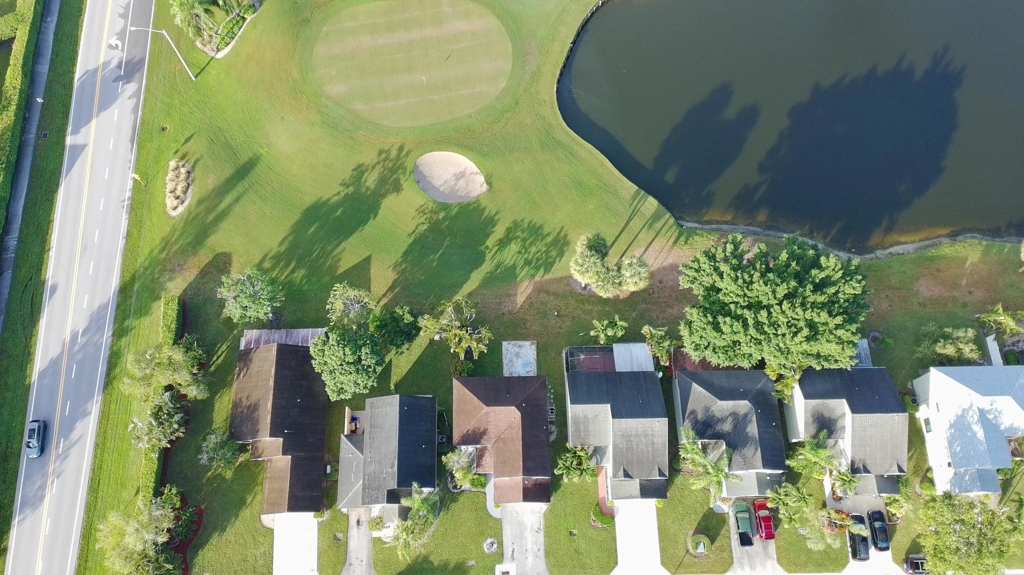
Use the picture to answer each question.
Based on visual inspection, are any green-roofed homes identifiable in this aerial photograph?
No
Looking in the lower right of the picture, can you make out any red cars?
Yes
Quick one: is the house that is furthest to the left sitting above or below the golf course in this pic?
below it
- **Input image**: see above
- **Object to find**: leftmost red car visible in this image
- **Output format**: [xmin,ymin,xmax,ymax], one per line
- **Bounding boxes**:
[753,500,775,541]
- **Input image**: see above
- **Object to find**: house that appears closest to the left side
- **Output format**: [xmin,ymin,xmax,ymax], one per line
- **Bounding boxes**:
[230,327,331,515]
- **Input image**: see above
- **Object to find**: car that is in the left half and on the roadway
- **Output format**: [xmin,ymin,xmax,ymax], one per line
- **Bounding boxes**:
[24,420,48,458]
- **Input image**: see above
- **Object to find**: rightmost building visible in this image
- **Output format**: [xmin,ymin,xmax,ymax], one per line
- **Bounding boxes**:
[911,365,1024,496]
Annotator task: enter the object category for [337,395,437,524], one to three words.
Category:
house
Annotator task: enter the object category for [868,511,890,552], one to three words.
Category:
car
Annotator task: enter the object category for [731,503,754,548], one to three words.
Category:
truck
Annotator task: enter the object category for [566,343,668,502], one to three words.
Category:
house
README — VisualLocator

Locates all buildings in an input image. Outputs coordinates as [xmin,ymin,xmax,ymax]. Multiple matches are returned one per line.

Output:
[452,341,551,504]
[911,365,1024,496]
[230,327,331,515]
[672,370,787,498]
[337,395,437,524]
[566,343,668,502]
[790,368,908,497]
